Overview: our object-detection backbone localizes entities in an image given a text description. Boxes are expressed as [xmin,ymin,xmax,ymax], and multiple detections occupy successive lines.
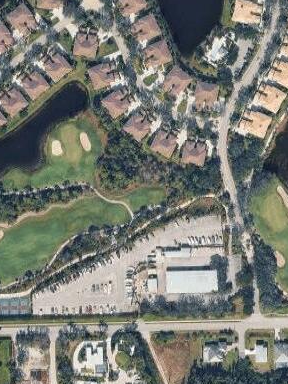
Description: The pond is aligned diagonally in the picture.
[0,81,88,178]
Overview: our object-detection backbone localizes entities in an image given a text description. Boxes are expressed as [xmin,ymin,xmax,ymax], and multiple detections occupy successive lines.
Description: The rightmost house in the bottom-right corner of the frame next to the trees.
[273,338,288,365]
